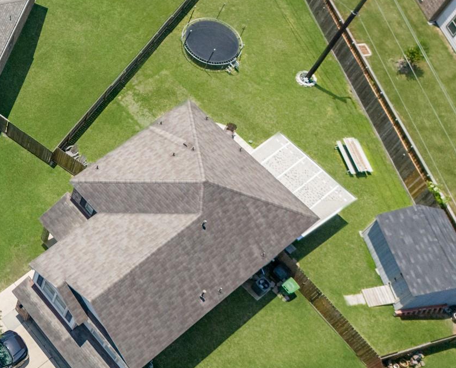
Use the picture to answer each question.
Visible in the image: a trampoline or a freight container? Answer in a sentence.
The image shows a trampoline.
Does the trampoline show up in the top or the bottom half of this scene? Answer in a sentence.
It is in the top half that the trampoline appears.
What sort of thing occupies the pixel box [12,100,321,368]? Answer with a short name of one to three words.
house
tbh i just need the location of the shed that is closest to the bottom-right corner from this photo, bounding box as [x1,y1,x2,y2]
[363,202,456,311]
